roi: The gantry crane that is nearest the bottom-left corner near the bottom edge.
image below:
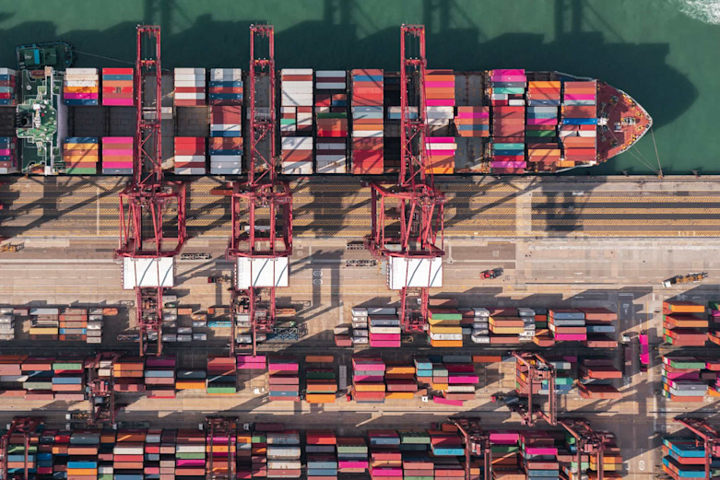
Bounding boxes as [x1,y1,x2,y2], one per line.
[0,416,41,480]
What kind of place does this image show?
port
